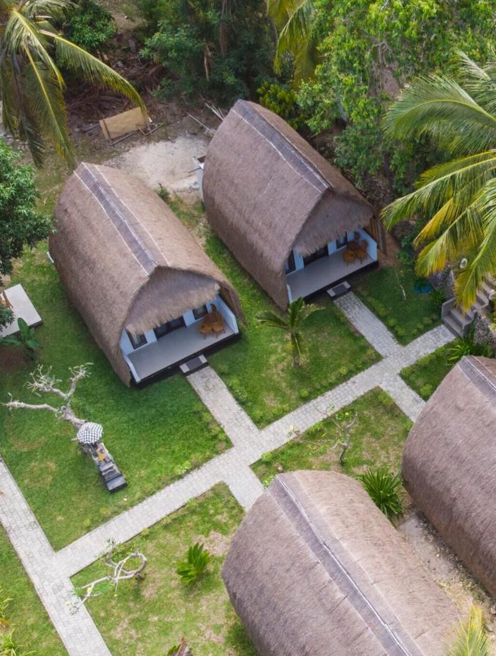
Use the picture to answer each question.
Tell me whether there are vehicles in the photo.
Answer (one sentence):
No, no vehicle is visible in the scene.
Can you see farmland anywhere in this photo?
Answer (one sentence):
No, no farmland is visible.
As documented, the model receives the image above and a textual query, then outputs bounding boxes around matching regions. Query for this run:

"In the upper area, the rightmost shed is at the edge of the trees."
[201,103,391,302]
